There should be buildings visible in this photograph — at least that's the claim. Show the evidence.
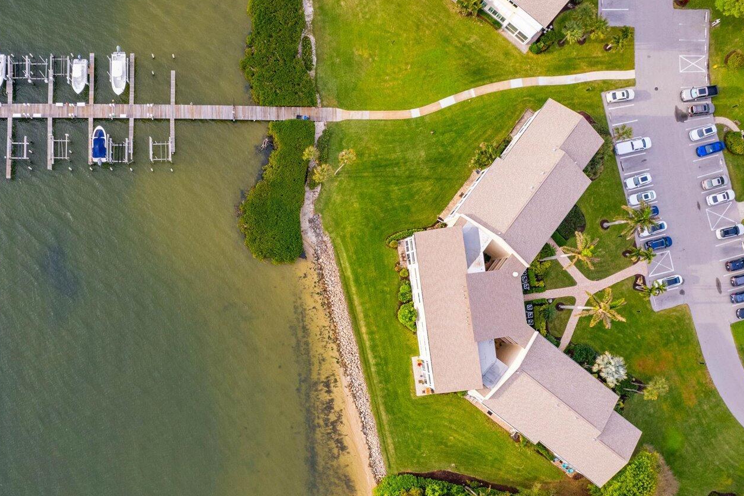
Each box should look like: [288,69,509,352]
[404,99,641,488]
[477,0,567,55]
